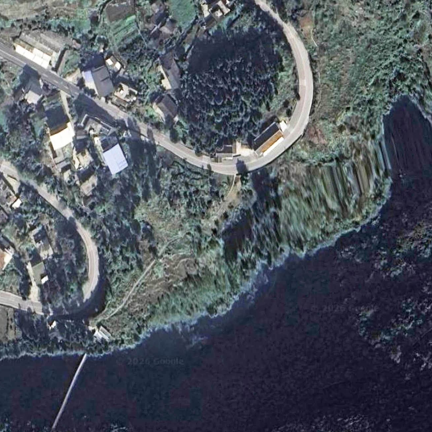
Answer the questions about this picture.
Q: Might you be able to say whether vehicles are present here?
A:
No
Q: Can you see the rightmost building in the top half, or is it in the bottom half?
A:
top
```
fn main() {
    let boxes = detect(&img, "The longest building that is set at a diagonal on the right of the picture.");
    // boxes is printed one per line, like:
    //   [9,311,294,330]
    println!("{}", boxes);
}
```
[254,121,287,157]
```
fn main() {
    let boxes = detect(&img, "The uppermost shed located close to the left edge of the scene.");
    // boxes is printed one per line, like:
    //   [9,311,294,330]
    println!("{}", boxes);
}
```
[14,32,66,68]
